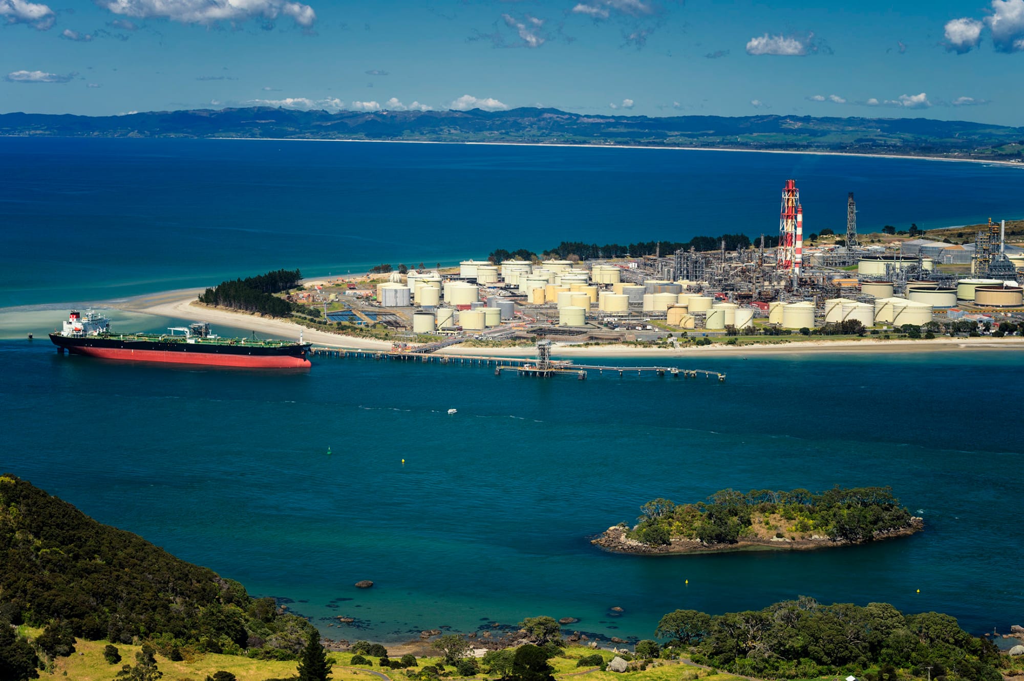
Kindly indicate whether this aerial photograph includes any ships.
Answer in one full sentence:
Yes, a ship appears in the view.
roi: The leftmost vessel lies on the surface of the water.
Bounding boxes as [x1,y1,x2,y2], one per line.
[45,305,312,368]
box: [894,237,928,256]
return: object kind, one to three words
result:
building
